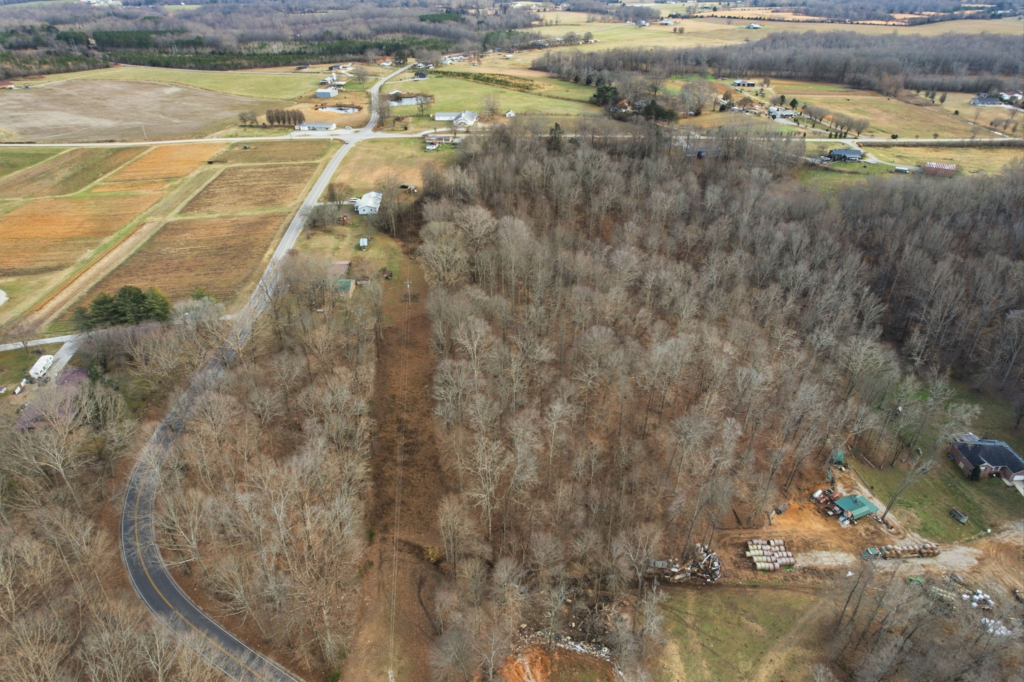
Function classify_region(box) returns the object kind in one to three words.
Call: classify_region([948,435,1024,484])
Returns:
house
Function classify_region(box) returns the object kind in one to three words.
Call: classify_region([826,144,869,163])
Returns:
house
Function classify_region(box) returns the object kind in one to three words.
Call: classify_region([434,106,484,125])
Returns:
building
